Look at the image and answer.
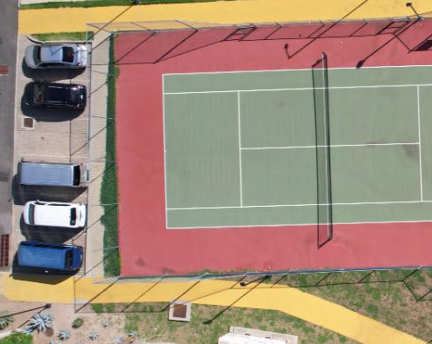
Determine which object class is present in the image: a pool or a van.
van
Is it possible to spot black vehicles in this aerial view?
Yes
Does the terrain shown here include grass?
Yes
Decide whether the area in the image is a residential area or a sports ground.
sports ground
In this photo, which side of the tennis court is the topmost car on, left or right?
left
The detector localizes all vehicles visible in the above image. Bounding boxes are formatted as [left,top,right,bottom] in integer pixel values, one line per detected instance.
[23,40,88,71]
[17,242,88,273]
[21,78,87,111]
[24,199,88,230]
[17,160,91,190]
